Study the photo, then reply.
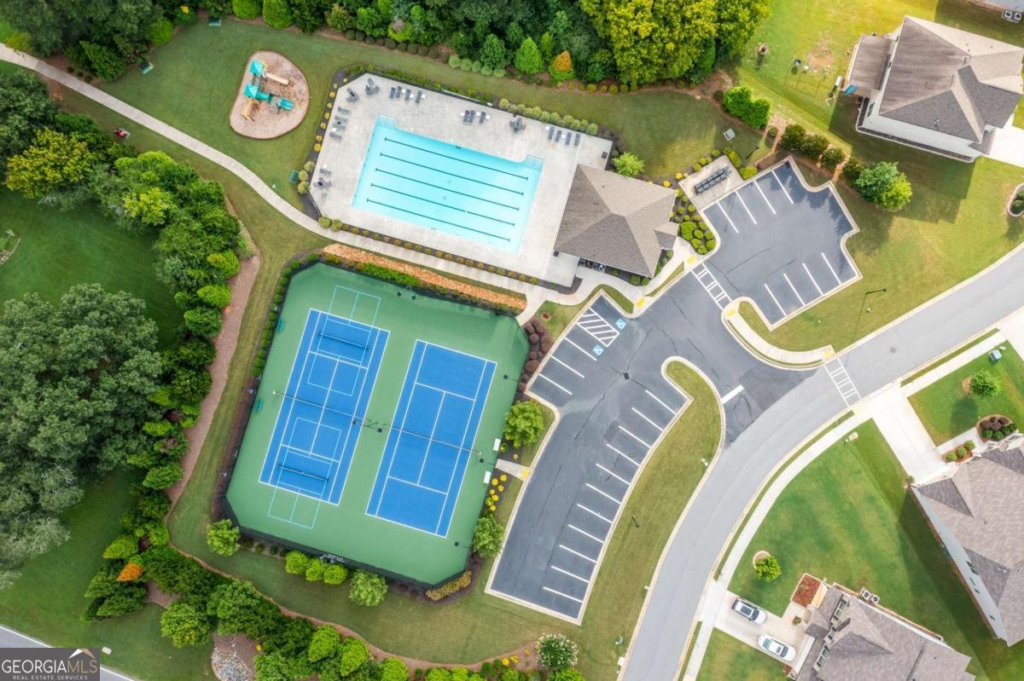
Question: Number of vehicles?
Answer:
2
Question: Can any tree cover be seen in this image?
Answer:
Yes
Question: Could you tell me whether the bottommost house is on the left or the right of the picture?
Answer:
right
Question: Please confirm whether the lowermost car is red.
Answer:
No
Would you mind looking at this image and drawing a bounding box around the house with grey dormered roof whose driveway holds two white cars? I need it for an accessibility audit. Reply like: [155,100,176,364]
[787,583,976,681]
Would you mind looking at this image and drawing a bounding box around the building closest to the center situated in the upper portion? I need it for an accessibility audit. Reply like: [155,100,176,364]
[554,163,679,277]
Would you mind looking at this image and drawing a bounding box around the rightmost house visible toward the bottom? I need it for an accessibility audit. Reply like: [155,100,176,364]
[909,430,1024,646]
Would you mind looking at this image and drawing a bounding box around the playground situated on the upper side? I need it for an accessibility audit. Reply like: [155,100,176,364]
[240,59,295,122]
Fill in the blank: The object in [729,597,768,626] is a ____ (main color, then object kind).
white car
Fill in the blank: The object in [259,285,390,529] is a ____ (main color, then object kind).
blue tennis court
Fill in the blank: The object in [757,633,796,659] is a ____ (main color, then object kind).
white car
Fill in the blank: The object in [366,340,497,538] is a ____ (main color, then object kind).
blue tennis court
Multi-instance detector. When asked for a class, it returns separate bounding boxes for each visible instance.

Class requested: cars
[757,633,796,659]
[729,597,768,626]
